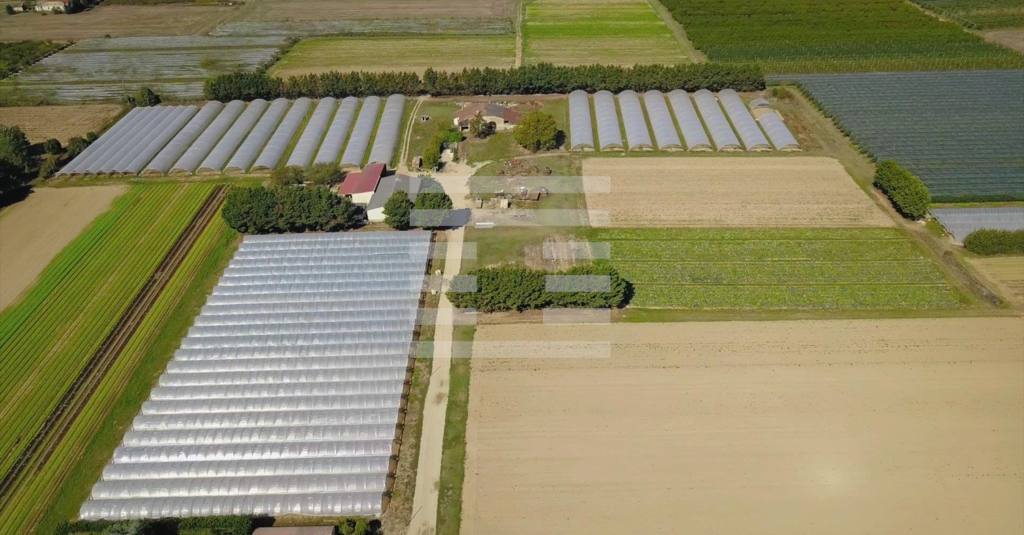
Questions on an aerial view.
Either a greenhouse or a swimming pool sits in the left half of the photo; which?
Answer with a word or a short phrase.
greenhouse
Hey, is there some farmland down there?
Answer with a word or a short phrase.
Yes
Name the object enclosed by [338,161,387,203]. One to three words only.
barn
